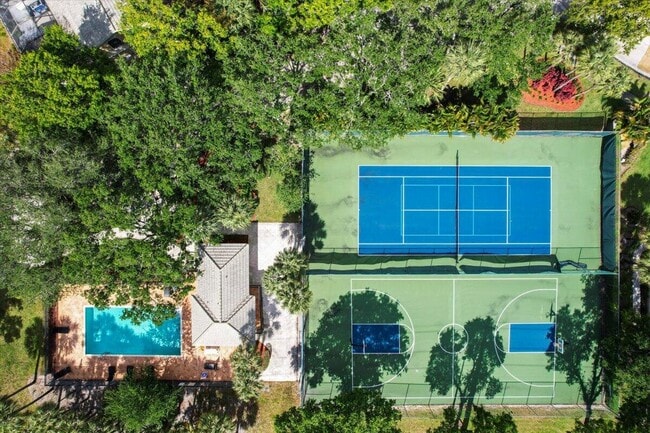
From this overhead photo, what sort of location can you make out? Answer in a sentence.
It's a sports ground.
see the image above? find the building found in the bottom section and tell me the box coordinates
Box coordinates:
[190,243,257,347]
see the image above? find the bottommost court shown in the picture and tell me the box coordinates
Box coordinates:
[303,272,604,406]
